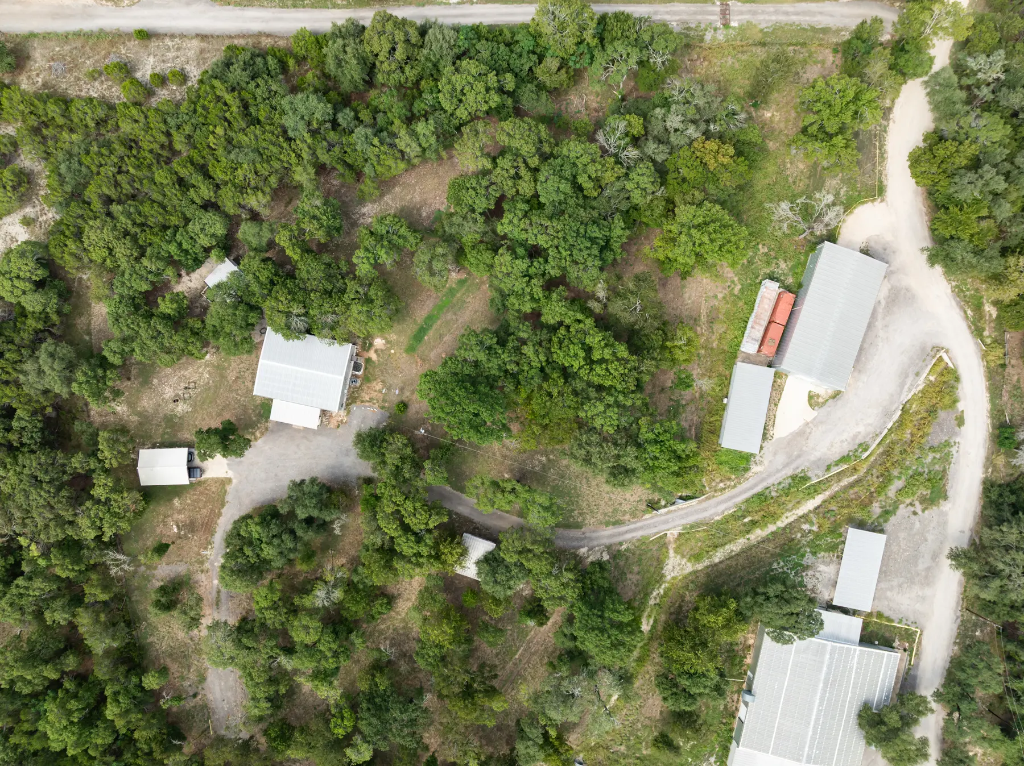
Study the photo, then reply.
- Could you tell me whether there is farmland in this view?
No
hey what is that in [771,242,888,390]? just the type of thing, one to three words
barn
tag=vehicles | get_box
[187,468,201,479]
[187,452,193,463]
